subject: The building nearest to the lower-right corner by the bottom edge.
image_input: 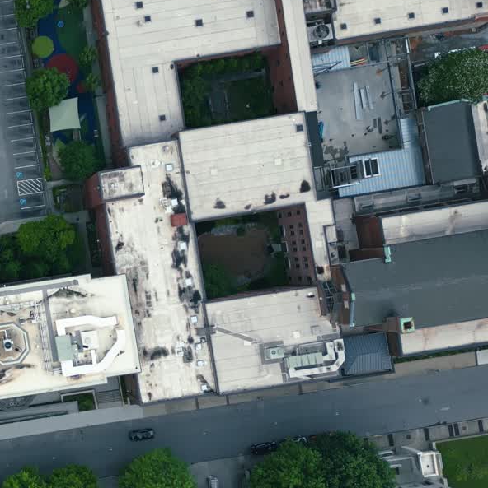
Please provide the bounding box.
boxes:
[406,445,439,476]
